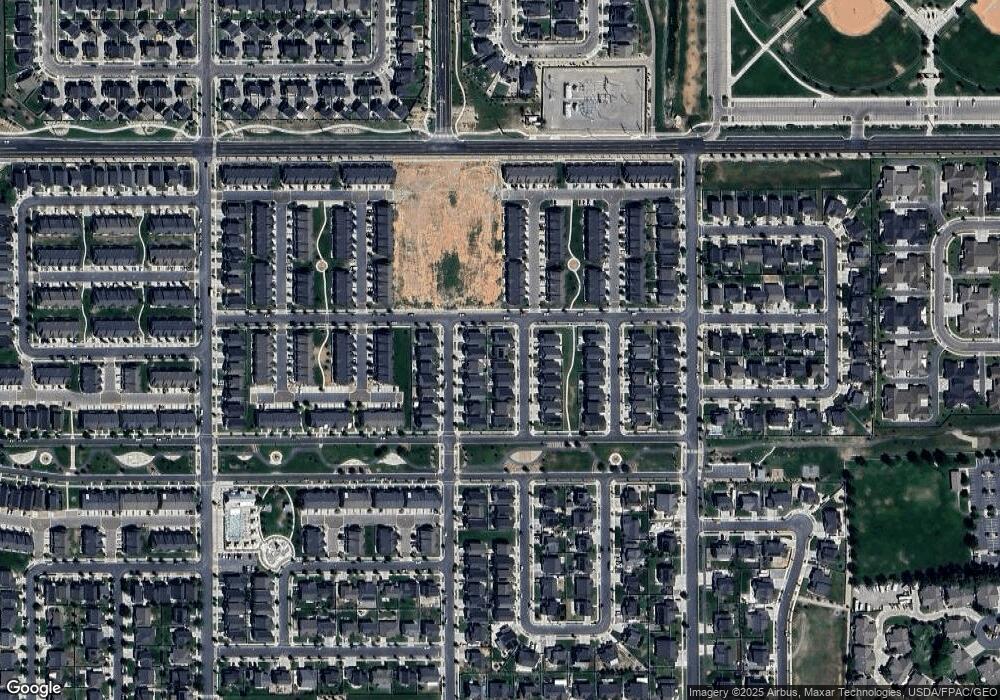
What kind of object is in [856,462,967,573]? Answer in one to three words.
sports field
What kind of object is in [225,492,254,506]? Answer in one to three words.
building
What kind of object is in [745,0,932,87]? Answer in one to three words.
baseball field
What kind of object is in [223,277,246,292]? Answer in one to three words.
house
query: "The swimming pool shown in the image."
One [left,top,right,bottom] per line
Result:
[225,500,262,548]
